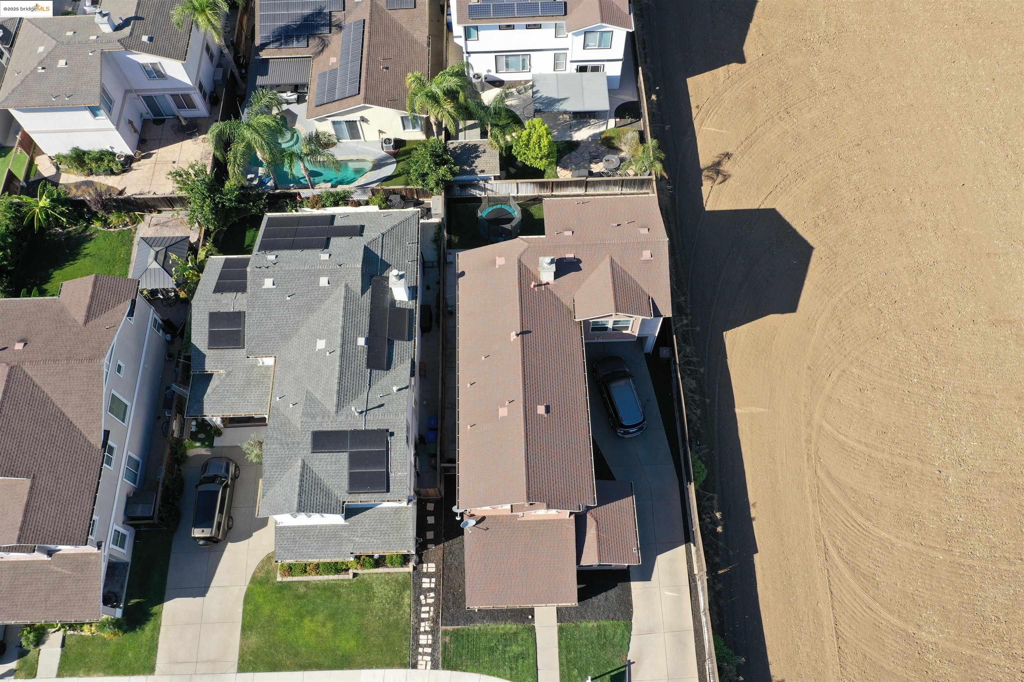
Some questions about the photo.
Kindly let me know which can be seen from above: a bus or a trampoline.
trampoline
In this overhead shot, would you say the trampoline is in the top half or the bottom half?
top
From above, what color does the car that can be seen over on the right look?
black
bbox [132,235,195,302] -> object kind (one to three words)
gazebo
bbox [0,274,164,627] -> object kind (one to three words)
house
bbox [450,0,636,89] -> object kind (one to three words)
house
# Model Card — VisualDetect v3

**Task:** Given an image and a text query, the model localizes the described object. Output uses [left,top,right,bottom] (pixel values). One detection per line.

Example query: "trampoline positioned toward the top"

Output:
[480,191,520,242]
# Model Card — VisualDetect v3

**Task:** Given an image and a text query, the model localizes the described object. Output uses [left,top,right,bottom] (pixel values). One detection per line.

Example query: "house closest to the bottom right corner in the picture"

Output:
[455,194,672,612]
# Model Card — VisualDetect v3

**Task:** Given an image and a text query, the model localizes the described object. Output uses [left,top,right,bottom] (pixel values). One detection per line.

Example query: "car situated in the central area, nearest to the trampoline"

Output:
[595,358,646,438]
